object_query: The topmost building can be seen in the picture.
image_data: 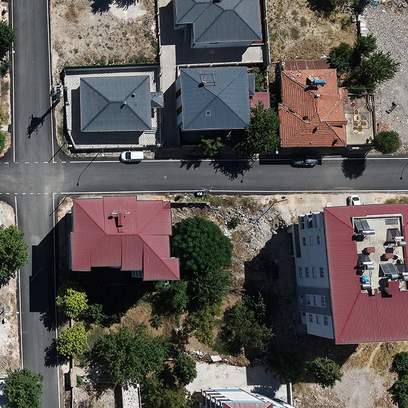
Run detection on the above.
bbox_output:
[173,0,262,48]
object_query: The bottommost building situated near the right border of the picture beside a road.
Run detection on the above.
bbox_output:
[295,203,408,344]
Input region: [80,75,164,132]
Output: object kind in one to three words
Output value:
house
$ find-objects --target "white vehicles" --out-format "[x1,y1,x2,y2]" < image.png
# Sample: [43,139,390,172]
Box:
[121,150,144,162]
[347,192,361,206]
